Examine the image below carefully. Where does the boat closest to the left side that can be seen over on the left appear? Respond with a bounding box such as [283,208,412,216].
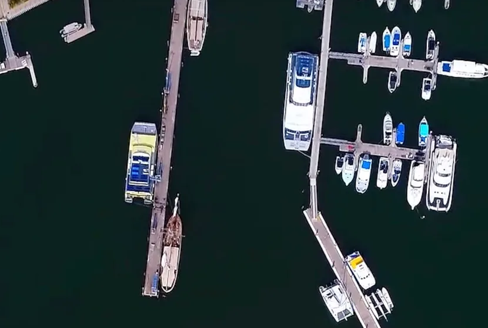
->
[61,24,82,39]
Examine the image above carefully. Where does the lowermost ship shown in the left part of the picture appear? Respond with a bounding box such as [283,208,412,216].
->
[160,197,181,293]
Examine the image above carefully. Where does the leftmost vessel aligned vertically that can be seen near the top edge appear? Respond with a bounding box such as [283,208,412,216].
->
[186,0,207,52]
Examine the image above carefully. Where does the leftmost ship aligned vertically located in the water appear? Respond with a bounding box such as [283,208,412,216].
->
[126,122,158,203]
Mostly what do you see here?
water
